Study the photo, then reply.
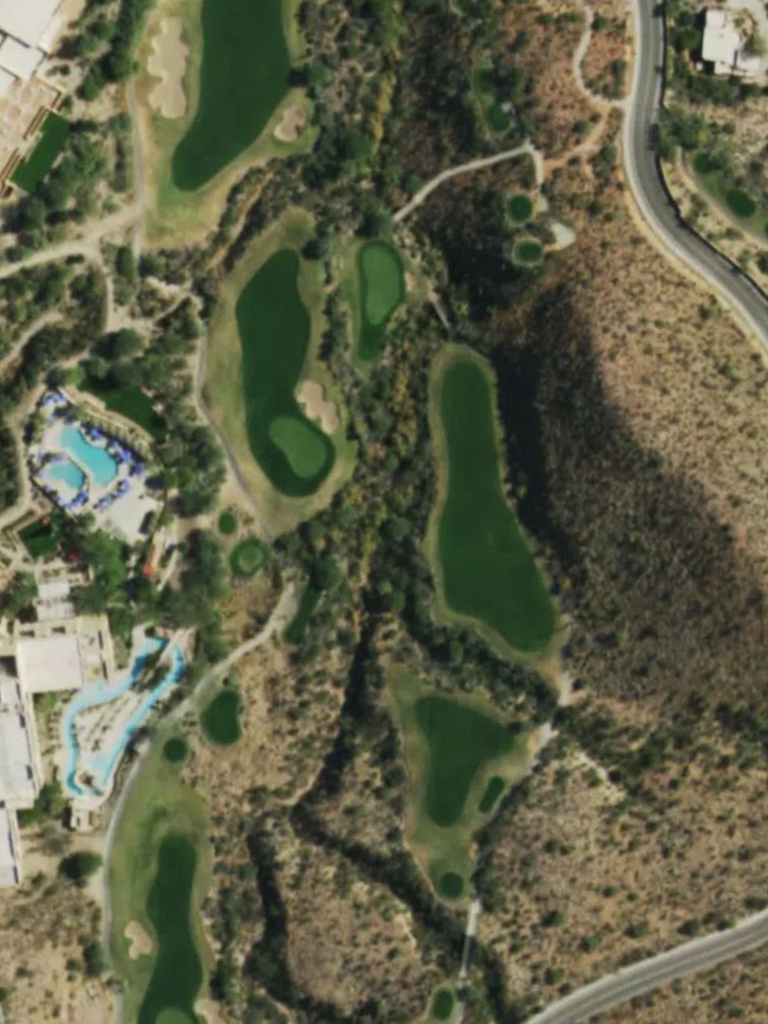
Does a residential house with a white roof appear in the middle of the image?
No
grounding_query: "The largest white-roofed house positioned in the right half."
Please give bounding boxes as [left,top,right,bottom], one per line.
[702,9,740,74]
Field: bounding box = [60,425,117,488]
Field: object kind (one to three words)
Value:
swimming pool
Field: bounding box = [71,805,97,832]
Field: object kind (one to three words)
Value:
house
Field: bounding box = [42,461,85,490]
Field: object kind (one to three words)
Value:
swimming pool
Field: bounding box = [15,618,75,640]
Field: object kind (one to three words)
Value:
building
